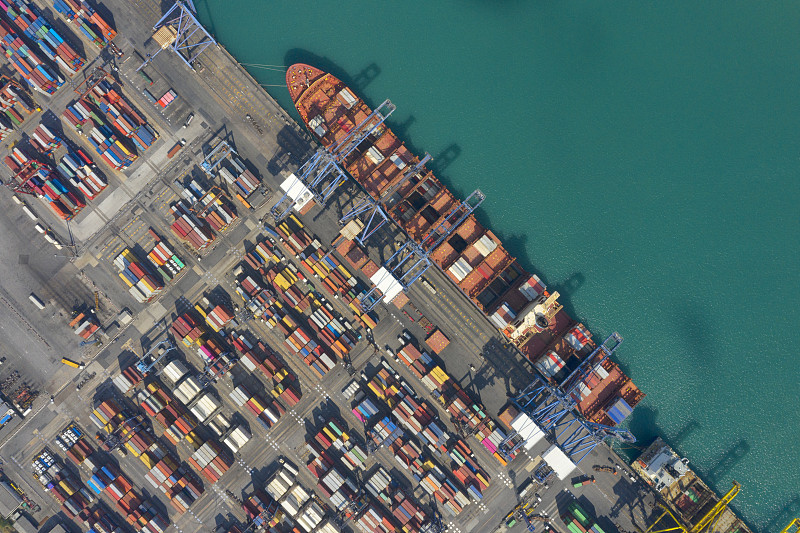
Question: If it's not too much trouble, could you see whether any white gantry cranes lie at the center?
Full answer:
Yes, there is a white gantry crane at the center.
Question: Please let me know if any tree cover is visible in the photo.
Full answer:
No, the picture contains no tree cover.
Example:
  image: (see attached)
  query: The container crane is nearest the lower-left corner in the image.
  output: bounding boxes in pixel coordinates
[95,417,144,460]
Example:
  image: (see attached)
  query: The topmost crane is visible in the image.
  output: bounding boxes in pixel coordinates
[140,0,223,73]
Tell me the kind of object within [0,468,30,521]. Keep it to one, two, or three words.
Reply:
building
